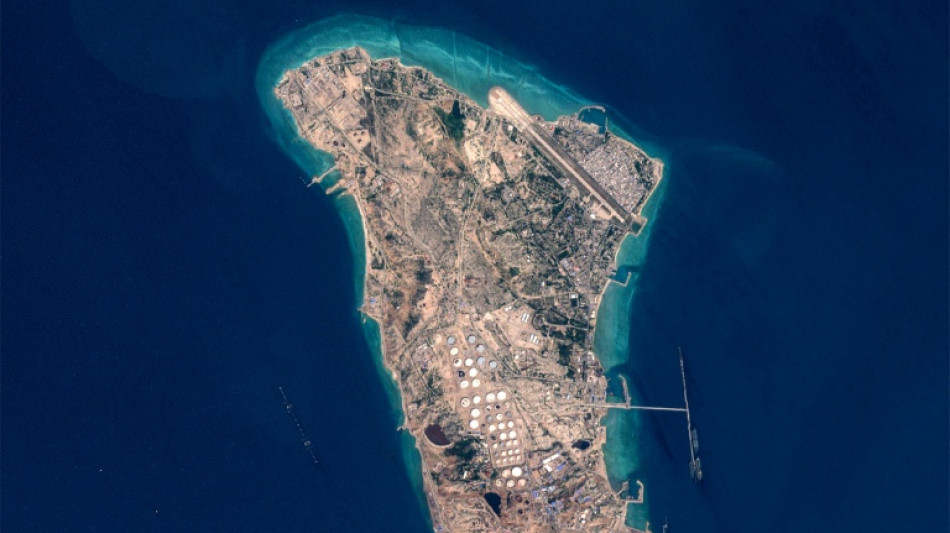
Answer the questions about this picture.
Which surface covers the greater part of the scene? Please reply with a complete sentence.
The bulk of the photo consists of water.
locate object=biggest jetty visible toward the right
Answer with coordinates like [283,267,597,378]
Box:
[604,347,695,465]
